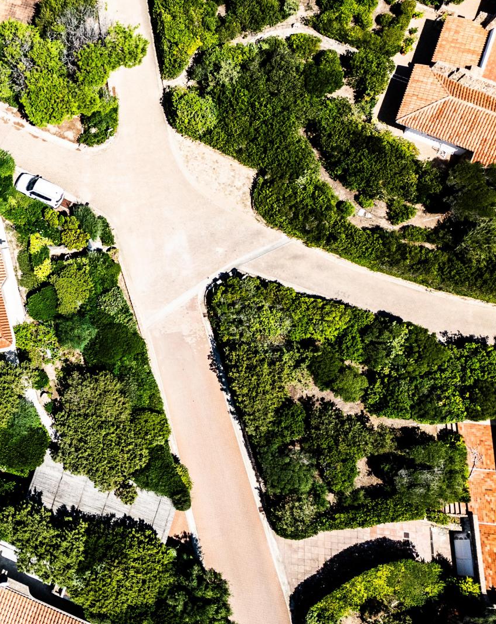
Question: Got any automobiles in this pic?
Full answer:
Yes, an automobile can be made out from above.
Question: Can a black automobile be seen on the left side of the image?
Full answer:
No, on the left side of the image there is no black automobile.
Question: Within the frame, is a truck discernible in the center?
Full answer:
No, no truck can be made out in the center.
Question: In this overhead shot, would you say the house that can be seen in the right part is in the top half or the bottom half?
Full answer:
You can find the house that can be seen in the right part in the top half.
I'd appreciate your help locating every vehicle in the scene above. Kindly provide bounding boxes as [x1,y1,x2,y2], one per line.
[452,531,485,575]
[14,171,67,209]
